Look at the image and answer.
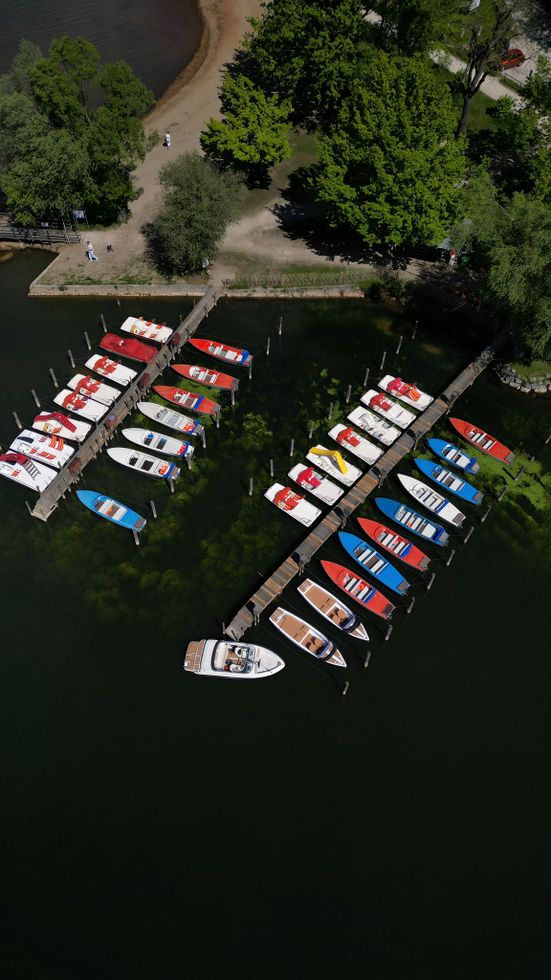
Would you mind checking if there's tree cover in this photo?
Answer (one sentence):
Yes, tree cover can be seen from above here.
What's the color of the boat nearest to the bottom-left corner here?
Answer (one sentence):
The boat nearest to the bottom-left corner is white.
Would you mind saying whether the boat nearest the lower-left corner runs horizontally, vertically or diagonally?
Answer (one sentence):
From this overhead view, the boat nearest the lower-left corner appears to run horizontally.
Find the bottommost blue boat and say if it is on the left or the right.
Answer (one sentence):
You can find the bottommost blue boat on the right side of the picture.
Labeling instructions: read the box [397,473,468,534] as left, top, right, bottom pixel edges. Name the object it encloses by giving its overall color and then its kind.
white boat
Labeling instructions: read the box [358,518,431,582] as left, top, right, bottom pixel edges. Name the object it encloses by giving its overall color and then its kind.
red boat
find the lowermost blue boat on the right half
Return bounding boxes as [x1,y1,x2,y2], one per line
[339,530,411,606]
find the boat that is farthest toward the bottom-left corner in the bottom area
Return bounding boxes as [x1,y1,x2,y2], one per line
[183,637,285,680]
